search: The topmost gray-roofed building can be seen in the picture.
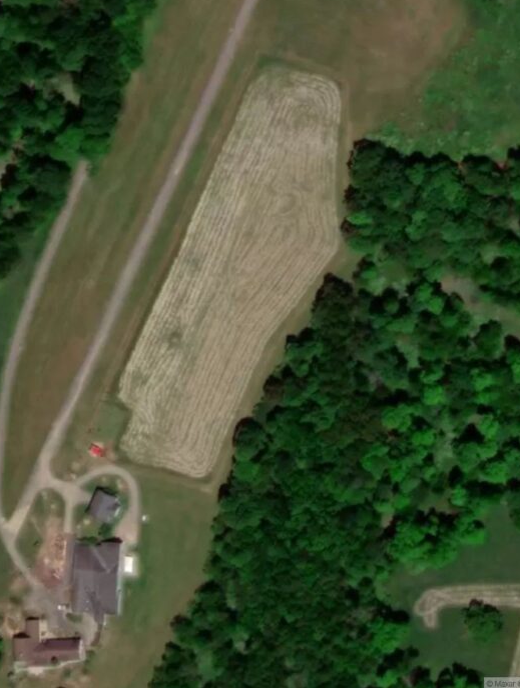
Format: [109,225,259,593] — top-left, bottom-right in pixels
[88,488,119,523]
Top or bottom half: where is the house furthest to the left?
bottom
